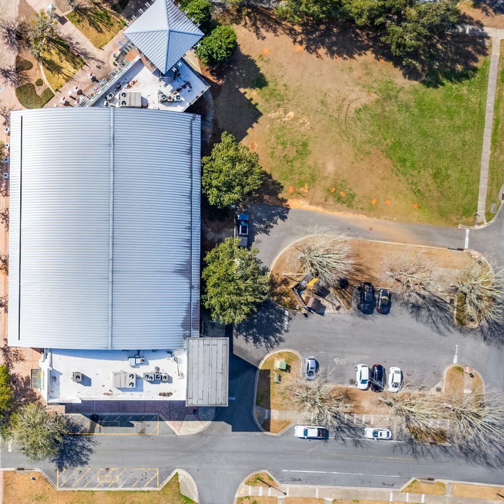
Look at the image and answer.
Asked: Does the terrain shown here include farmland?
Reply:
No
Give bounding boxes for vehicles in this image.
[376,288,391,314]
[235,212,250,247]
[304,356,319,381]
[364,428,392,441]
[386,367,401,393]
[358,283,374,314]
[370,364,385,392]
[295,425,328,440]
[355,363,369,391]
